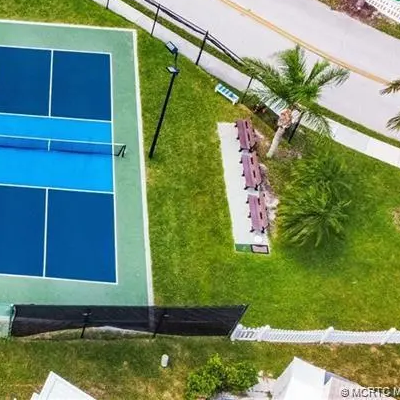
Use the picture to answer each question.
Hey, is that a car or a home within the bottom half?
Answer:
home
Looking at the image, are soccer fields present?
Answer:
No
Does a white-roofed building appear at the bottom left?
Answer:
Yes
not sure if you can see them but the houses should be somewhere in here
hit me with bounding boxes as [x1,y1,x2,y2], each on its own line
[31,369,101,400]
[273,357,344,400]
